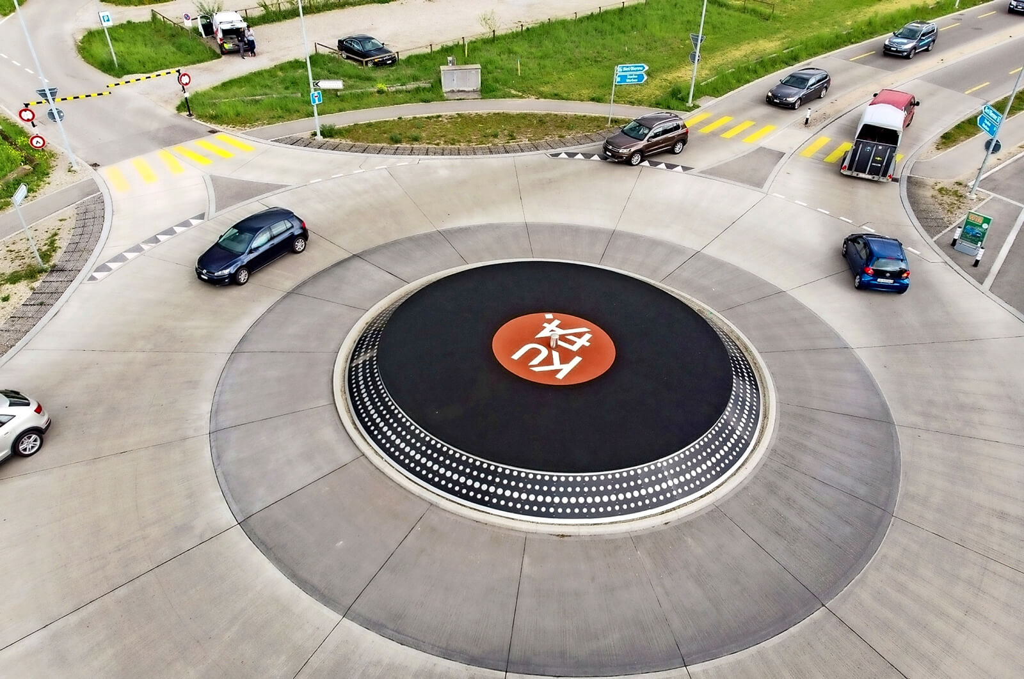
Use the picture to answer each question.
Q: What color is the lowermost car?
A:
white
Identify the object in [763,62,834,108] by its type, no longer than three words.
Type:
car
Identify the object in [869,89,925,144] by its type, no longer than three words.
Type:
van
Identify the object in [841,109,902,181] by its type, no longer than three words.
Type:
trailer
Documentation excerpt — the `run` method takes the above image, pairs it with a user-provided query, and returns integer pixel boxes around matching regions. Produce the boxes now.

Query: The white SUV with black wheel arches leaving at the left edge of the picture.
[0,388,45,463]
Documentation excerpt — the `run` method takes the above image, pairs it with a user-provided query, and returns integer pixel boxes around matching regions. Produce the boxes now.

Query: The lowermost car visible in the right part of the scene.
[844,233,914,294]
